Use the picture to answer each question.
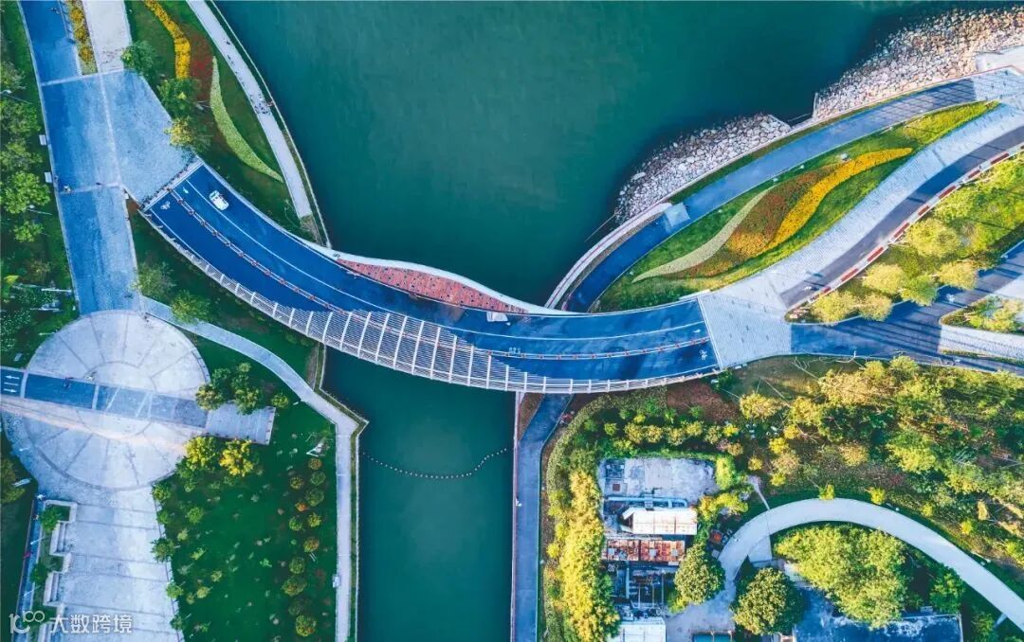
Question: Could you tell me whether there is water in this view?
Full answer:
Yes, some water is visible.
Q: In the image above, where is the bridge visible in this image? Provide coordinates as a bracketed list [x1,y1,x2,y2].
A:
[142,159,728,395]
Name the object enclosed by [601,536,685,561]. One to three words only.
shed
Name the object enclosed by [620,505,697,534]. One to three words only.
shed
